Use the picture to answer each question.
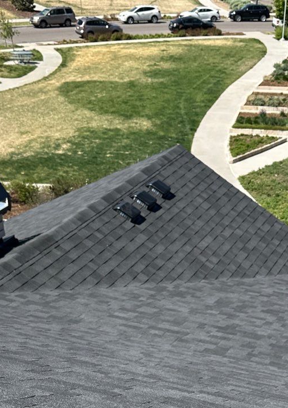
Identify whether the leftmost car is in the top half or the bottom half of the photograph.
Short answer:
top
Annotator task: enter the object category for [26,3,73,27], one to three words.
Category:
car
